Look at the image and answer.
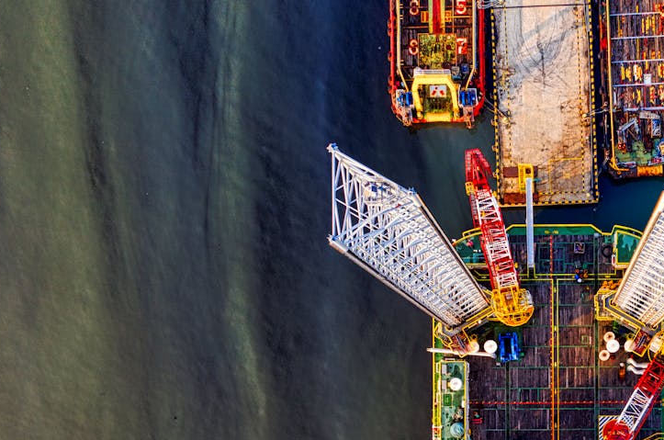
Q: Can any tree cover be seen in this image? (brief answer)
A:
No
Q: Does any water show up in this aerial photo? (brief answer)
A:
Yes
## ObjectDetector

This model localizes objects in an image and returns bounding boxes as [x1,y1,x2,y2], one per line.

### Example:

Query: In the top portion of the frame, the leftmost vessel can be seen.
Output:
[386,0,485,126]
